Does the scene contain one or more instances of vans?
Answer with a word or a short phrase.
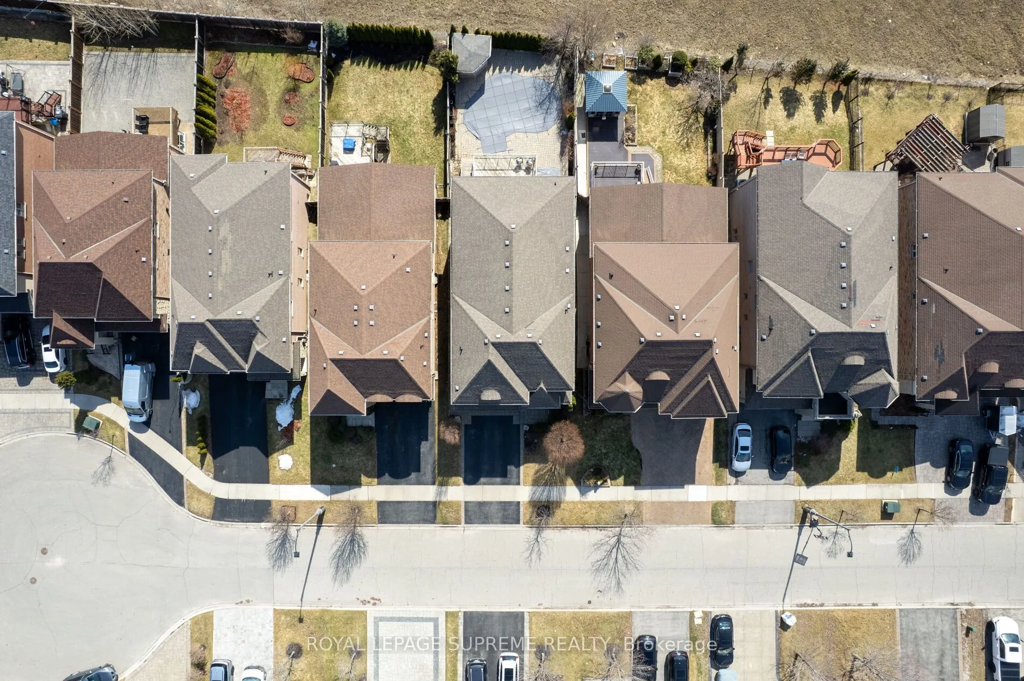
Yes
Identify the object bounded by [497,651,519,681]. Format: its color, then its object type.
white car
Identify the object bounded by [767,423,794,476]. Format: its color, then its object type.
black car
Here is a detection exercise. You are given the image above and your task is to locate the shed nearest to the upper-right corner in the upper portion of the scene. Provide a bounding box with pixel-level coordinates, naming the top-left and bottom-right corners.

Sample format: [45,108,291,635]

[965,103,1006,144]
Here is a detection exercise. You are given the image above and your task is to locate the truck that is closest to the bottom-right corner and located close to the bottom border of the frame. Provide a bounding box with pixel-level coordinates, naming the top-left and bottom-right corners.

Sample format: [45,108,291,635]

[985,618,1021,681]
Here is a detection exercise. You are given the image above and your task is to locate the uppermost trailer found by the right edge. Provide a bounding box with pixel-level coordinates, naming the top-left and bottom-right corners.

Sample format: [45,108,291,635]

[981,404,1017,443]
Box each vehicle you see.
[0,316,37,374]
[209,658,235,681]
[944,436,976,490]
[728,421,755,474]
[985,618,1021,681]
[466,657,487,681]
[121,359,158,422]
[767,423,794,476]
[65,661,121,681]
[709,614,736,669]
[976,442,1013,507]
[39,325,72,373]
[634,634,660,681]
[497,651,519,681]
[665,649,688,681]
